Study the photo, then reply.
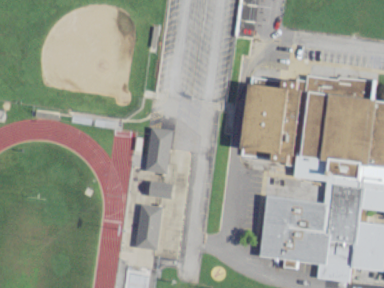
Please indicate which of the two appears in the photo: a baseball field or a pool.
baseball field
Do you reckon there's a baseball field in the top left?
Yes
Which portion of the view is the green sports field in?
bottom left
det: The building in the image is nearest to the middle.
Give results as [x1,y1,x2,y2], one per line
[145,128,174,172]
